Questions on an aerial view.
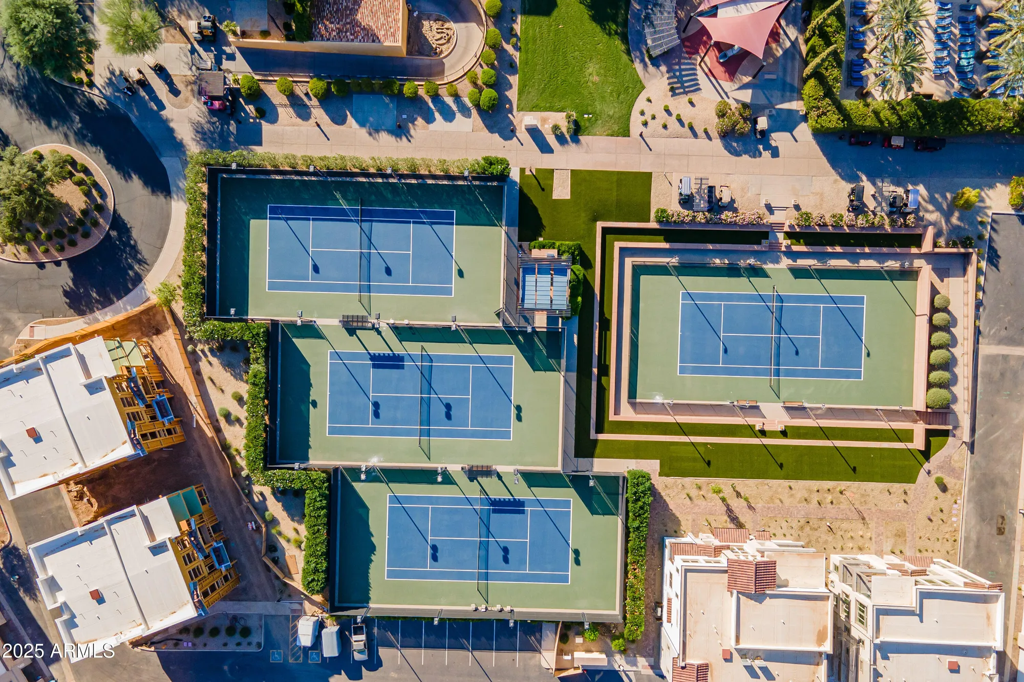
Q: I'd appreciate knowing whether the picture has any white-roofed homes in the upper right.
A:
No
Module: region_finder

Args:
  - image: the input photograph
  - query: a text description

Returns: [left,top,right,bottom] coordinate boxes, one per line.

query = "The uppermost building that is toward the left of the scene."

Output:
[306,0,406,59]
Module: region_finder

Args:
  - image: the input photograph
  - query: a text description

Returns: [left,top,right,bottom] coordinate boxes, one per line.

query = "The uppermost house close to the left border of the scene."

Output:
[0,328,188,502]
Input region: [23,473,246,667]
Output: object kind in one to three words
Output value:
house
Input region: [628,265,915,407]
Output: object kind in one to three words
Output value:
tennis court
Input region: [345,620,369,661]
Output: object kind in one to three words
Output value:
truck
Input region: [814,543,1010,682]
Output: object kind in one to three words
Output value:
house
